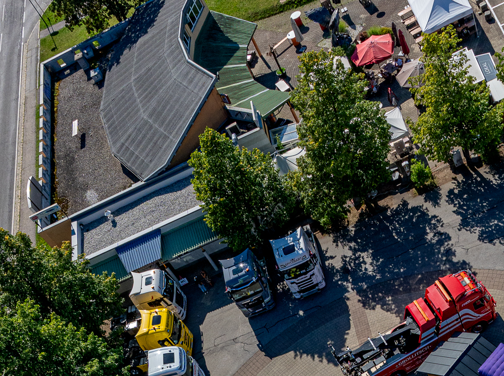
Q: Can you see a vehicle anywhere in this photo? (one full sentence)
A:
Yes, a vehicle appears in the view.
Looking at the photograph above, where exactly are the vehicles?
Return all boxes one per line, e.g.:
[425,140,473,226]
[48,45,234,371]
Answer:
[152,341,210,376]
[109,266,189,340]
[221,243,276,320]
[319,266,498,376]
[115,304,198,376]
[272,222,325,299]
